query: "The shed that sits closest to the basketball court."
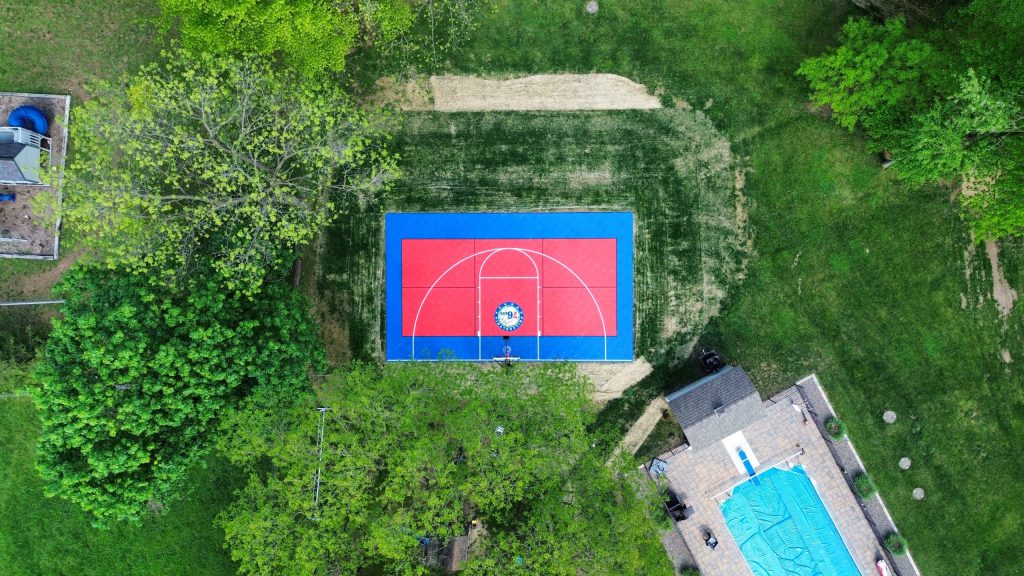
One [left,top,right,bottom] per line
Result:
[666,362,767,451]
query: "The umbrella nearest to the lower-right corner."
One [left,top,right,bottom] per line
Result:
[875,555,898,574]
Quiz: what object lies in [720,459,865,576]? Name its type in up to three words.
swimming pool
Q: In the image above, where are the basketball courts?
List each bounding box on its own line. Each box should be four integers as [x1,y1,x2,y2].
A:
[386,213,633,362]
